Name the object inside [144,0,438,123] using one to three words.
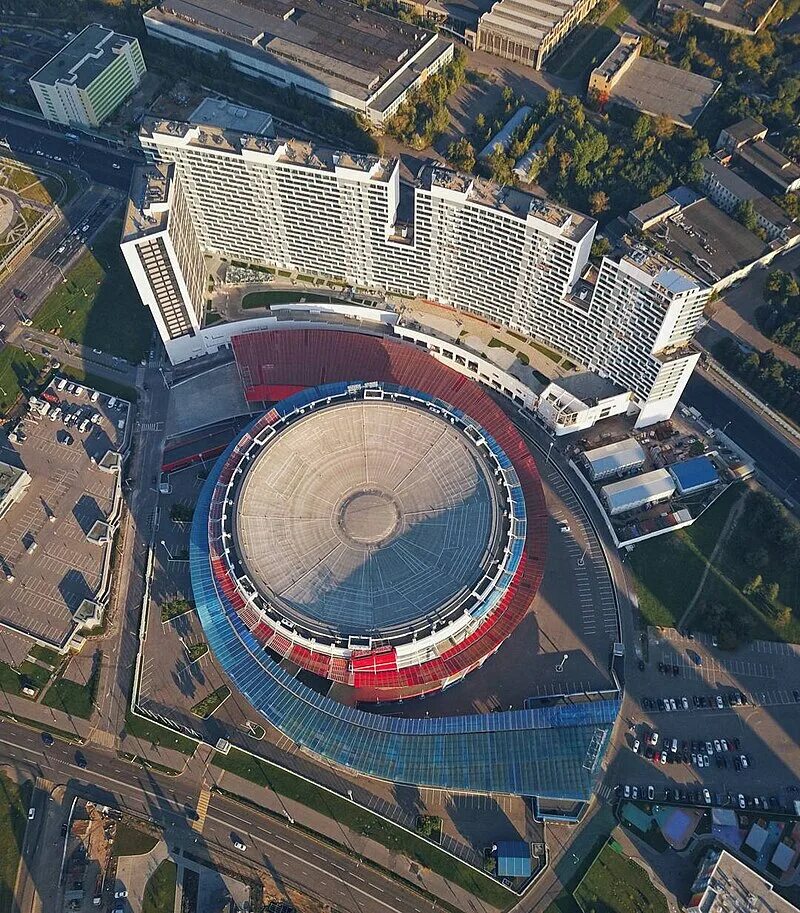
warehouse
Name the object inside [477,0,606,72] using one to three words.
building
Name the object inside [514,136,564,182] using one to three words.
hangar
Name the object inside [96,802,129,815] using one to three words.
vehicle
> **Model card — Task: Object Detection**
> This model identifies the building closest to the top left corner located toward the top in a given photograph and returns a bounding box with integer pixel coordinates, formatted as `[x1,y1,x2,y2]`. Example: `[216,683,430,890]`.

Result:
[29,22,147,138]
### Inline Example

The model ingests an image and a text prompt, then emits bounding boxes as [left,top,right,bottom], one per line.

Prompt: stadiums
[190,328,612,793]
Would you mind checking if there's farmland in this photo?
No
